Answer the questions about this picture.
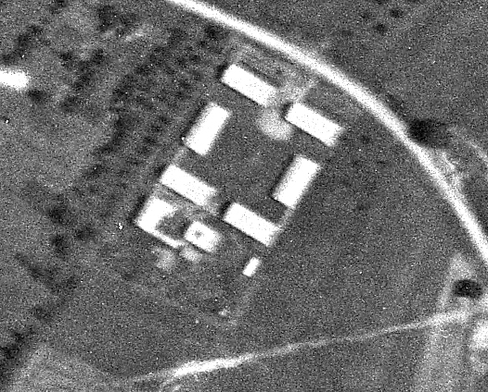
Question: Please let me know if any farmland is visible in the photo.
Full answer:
Yes, farmland shows up in the scene.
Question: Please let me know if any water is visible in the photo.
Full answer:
No, there's no water in this view.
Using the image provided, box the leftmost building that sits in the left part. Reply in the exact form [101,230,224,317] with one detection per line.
[137,196,186,248]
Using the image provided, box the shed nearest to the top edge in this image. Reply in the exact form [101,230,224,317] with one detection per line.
[222,62,277,105]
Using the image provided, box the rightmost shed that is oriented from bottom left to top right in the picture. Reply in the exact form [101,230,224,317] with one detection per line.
[273,154,318,209]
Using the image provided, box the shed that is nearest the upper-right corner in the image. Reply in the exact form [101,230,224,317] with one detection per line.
[286,100,341,145]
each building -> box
[273,154,318,209]
[137,196,186,248]
[185,220,220,252]
[286,100,341,145]
[160,164,215,206]
[186,101,231,153]
[222,62,277,105]
[243,257,261,277]
[223,202,279,246]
